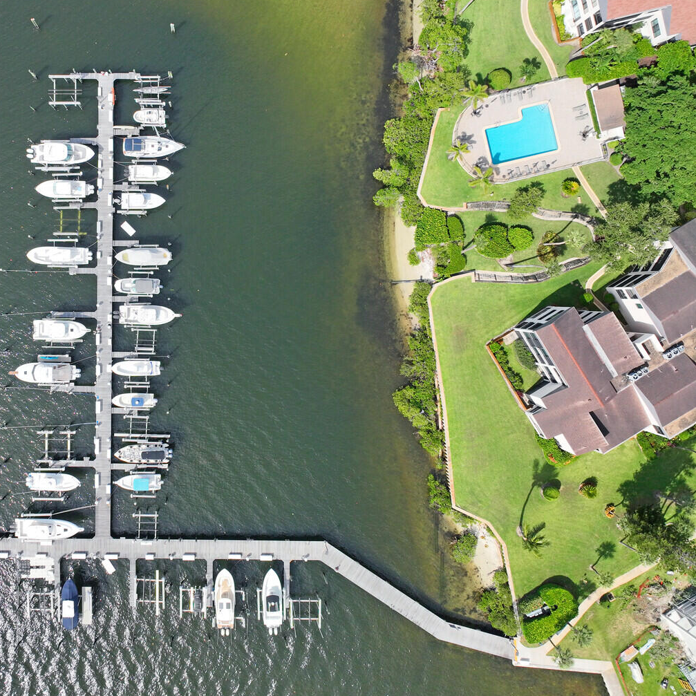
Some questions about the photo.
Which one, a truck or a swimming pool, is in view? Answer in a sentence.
Visible in the photo is a swimming pool.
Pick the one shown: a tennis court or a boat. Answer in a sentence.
The one in the frame is a boat.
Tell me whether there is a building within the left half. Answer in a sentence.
No, I can find no building within the left half.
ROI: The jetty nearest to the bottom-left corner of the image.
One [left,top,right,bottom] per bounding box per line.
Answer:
[19,557,54,581]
